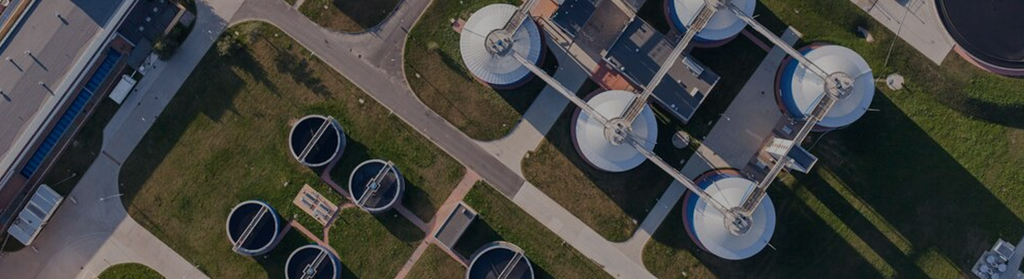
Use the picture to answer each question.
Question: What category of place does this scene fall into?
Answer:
industrial area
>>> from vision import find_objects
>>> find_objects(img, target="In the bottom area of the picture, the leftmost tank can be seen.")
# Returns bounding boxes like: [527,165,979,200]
[226,198,283,254]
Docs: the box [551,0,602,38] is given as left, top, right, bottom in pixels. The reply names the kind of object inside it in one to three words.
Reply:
building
